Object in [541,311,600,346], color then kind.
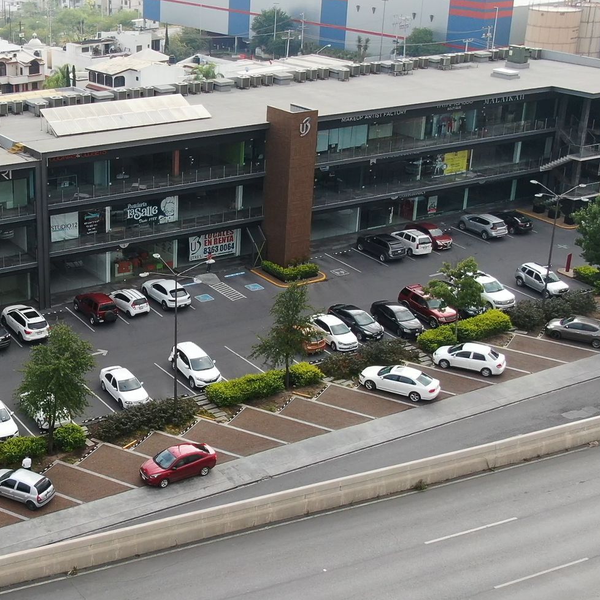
gray car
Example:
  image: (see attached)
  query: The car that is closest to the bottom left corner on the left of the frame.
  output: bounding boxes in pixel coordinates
[0,462,61,507]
